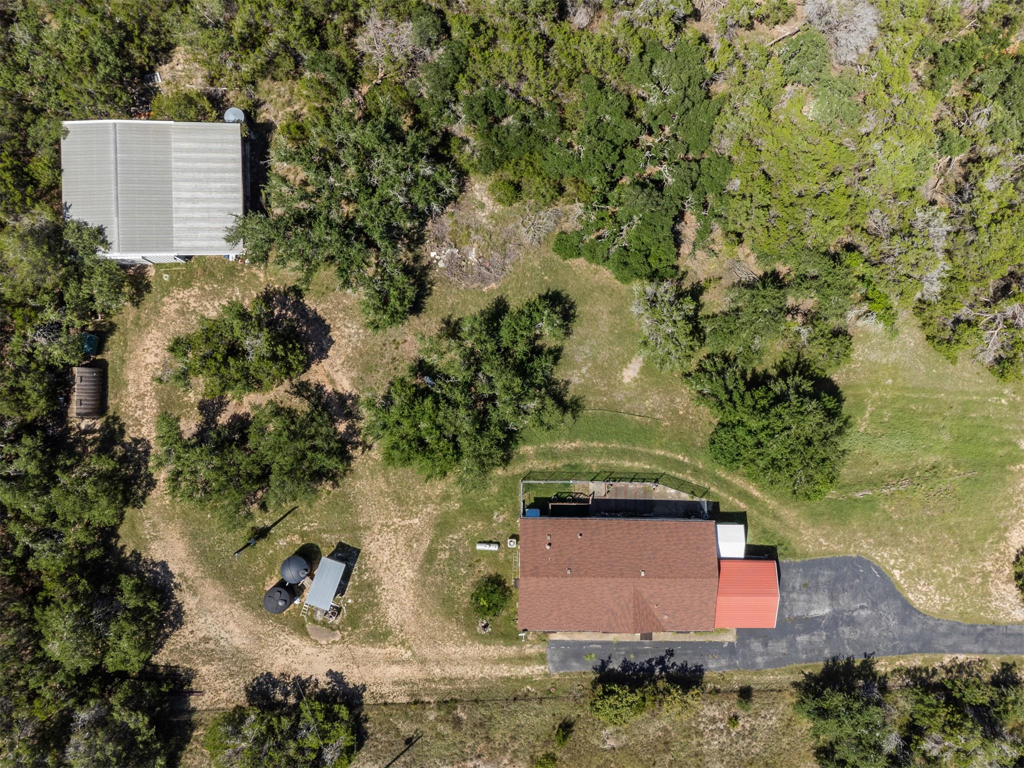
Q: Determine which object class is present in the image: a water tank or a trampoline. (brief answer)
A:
water tank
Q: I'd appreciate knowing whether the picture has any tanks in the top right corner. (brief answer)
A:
No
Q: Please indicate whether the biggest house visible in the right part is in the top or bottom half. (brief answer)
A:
bottom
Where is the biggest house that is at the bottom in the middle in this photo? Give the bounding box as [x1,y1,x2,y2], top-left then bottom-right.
[518,517,719,634]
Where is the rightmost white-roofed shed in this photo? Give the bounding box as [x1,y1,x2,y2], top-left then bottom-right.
[717,521,745,558]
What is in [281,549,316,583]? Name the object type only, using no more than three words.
water tank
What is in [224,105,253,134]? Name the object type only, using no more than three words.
storage tank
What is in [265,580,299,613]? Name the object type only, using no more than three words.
water tank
